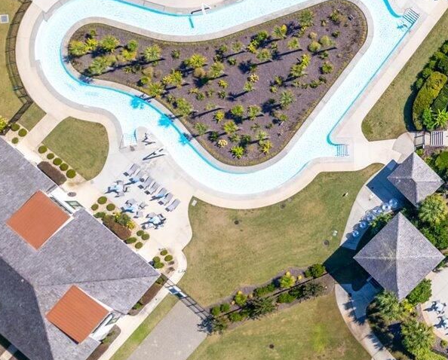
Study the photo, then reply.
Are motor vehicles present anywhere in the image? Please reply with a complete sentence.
No, the frame has no motor vehicle in it.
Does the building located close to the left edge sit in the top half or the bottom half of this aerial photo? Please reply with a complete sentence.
The building located close to the left edge sits in the bottom half of the picture.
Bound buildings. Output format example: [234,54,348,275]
[387,153,443,205]
[0,131,165,360]
[353,213,443,299]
